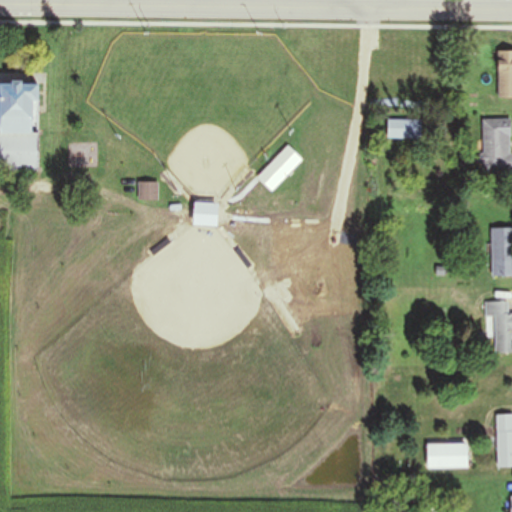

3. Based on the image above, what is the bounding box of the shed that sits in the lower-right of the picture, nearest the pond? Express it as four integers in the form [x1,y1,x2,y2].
[427,442,470,470]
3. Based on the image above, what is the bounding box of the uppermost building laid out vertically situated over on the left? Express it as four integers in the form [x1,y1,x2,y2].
[0,80,40,169]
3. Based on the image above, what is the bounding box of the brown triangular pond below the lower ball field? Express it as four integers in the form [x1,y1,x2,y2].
[306,434,359,486]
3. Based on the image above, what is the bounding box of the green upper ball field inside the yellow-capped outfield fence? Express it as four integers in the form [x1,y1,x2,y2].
[89,34,351,227]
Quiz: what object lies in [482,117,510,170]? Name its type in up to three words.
house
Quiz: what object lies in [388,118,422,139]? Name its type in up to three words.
shed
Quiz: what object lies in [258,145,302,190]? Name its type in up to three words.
building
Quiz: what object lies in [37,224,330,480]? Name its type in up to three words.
baseball field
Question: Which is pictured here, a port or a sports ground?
sports ground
